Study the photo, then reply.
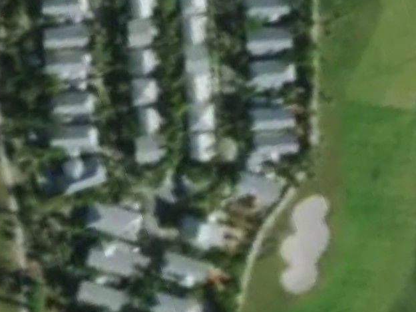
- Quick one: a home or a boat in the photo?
home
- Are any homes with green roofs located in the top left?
No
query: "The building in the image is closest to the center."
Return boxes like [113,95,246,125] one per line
[190,133,216,161]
